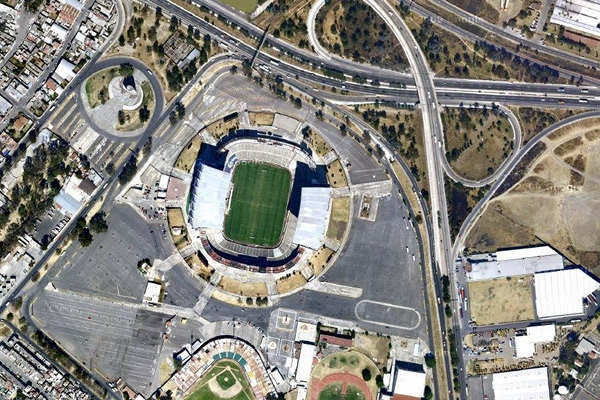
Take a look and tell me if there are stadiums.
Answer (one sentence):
Yes, a stadium is visible in the scene.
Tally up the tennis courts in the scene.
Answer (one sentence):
The picture shows no tennis courts.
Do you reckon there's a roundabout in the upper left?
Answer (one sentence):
Yes, a roundabout appears in the upper left.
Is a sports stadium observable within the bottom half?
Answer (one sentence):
Yes, a sports stadium shows up within the bottom half.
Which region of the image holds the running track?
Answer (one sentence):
The running track appears toward the bottom of the photo.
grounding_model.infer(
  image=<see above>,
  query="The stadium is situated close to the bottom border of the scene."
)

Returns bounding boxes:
[148,336,279,400]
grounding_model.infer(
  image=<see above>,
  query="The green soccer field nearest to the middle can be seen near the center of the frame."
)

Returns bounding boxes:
[223,158,294,251]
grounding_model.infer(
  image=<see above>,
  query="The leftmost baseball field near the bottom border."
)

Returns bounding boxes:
[183,360,257,400]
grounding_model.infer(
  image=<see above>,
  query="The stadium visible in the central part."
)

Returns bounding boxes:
[163,109,353,309]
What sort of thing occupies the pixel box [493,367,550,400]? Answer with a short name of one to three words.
building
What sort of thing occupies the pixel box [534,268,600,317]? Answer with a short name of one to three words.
building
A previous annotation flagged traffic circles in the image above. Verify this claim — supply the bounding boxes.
[77,54,165,141]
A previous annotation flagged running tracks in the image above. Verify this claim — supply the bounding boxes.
[309,347,384,400]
